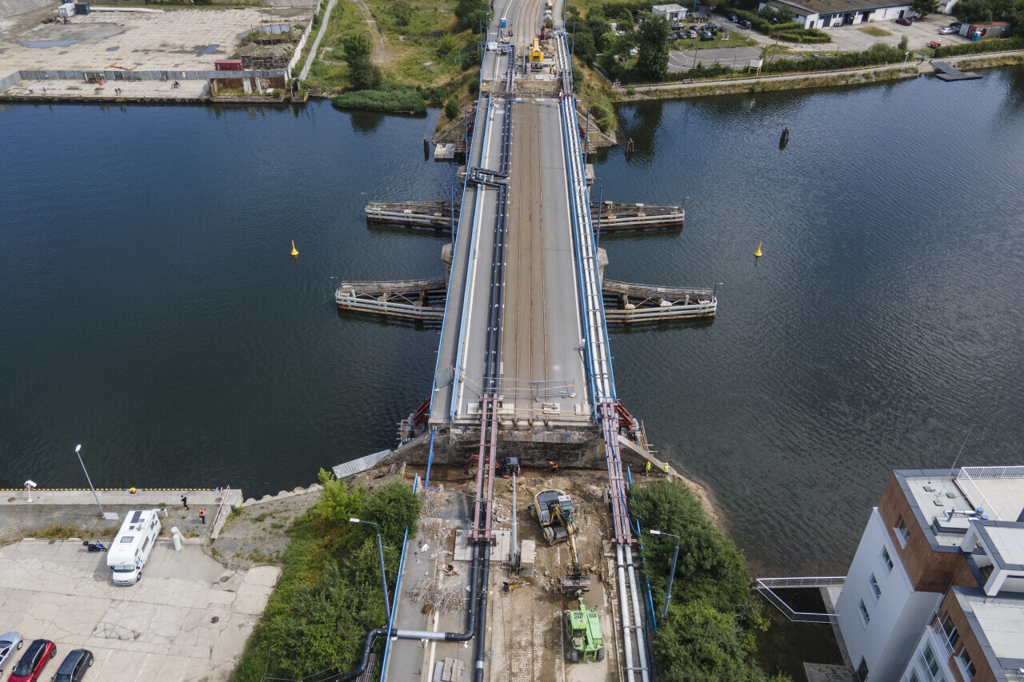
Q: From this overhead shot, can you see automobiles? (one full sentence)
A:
Yes, an automobile is visible in the scene.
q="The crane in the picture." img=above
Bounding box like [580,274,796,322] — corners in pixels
[521,36,553,70]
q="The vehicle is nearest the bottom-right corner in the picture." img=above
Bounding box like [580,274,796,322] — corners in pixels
[556,587,605,663]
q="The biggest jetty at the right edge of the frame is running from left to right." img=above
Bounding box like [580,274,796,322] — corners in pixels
[933,61,982,83]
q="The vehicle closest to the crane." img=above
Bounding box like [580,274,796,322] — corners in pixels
[541,22,554,45]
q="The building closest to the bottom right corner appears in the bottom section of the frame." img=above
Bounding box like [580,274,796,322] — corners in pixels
[835,442,1024,682]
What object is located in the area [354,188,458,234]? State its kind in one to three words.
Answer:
pier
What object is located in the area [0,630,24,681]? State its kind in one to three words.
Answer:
car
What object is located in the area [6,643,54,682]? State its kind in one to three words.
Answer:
car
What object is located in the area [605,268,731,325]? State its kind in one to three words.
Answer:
pier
